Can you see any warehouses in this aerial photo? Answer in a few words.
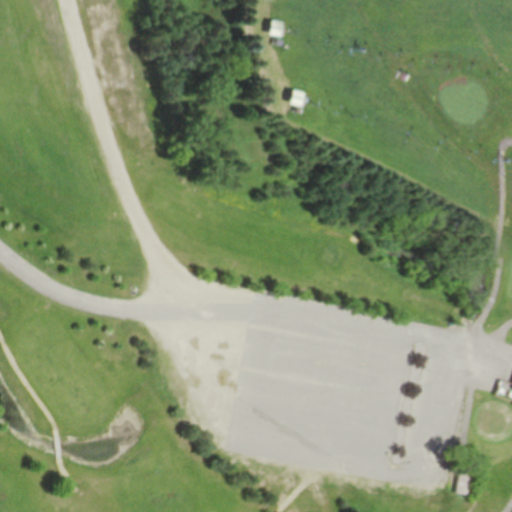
No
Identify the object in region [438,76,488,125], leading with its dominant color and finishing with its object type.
green sports field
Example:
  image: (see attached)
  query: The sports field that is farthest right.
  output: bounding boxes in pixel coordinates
[471,400,512,440]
